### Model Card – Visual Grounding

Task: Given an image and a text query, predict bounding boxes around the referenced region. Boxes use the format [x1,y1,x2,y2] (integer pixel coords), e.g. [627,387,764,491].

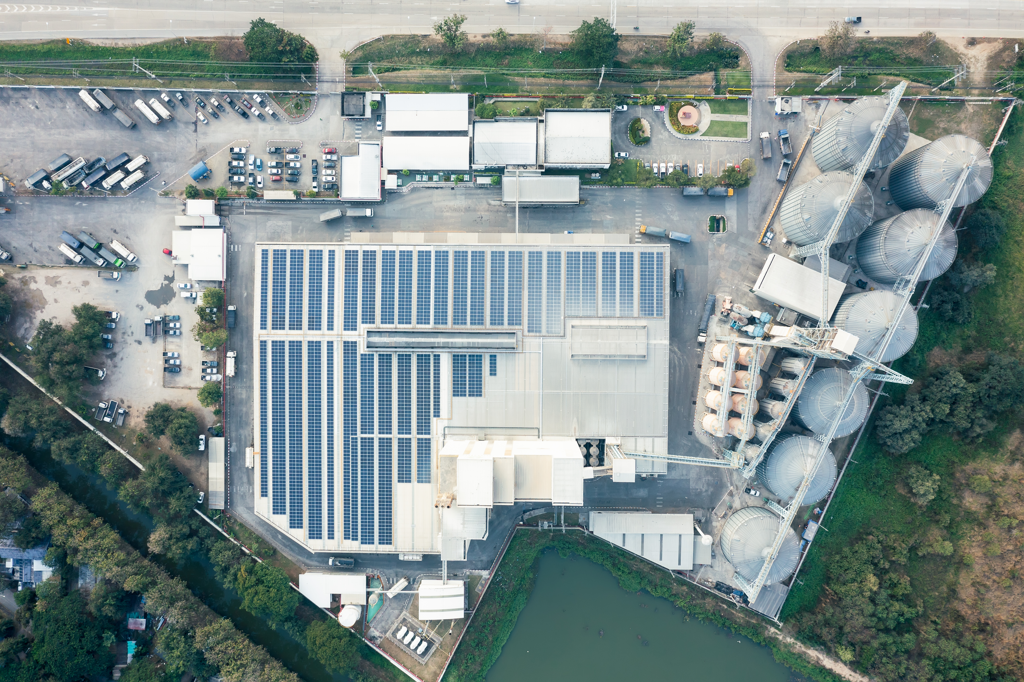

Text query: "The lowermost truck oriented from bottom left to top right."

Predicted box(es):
[387,573,413,598]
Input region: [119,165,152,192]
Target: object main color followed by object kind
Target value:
white truck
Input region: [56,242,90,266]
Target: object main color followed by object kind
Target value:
white truck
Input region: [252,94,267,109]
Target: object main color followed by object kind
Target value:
white vehicle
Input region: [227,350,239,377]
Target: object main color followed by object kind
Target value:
white vehicle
